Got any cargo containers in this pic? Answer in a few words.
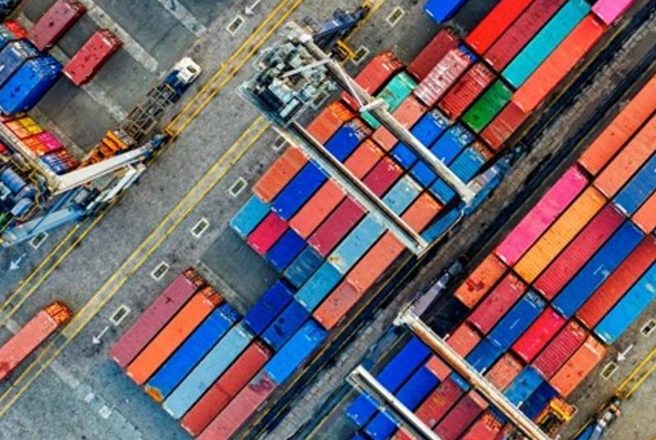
Yes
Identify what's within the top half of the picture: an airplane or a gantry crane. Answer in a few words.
gantry crane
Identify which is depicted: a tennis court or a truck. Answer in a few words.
truck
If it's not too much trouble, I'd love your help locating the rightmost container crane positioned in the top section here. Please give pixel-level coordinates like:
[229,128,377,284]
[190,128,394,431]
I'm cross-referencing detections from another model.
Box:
[235,0,530,260]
